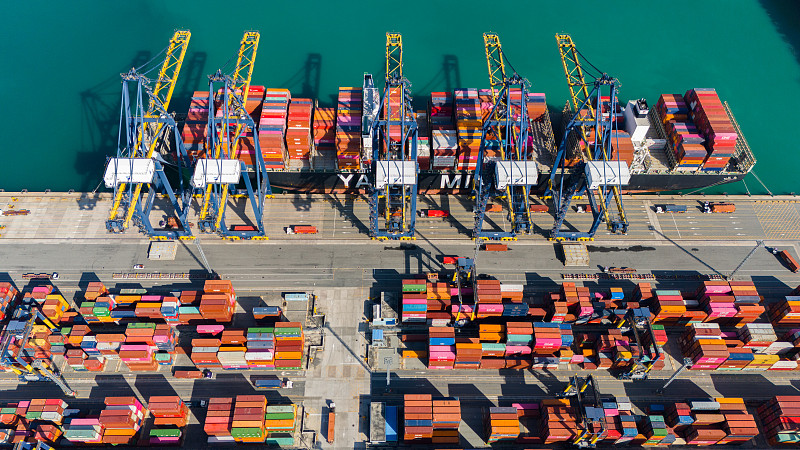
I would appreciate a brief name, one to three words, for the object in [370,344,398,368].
building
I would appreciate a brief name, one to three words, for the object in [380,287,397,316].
building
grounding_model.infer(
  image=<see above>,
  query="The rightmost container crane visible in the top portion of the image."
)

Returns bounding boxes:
[541,30,634,244]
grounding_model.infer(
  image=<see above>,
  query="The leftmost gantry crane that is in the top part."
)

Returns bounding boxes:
[103,27,202,243]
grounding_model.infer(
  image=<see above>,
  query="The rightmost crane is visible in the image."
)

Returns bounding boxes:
[613,304,663,376]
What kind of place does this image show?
port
